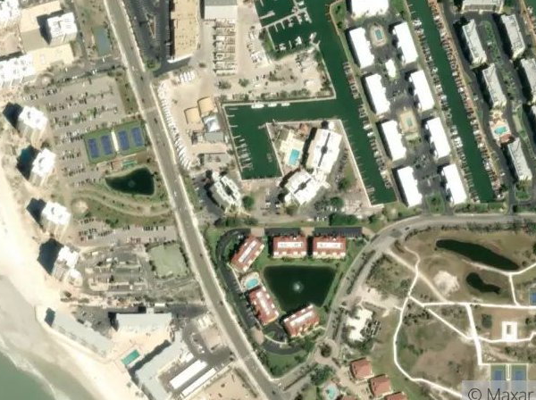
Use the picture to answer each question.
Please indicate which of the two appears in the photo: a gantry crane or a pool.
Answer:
pool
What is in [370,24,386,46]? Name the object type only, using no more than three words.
swimming pool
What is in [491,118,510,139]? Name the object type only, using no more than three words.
swimming pool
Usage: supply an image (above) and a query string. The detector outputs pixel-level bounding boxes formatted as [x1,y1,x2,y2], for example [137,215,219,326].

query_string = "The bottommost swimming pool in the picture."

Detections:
[319,382,341,400]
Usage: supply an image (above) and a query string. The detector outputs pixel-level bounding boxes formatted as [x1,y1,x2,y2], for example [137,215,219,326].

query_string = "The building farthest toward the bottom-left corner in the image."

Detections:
[54,312,113,362]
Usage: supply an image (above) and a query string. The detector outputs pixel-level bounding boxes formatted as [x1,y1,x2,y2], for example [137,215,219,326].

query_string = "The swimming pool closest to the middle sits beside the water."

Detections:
[280,133,305,166]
